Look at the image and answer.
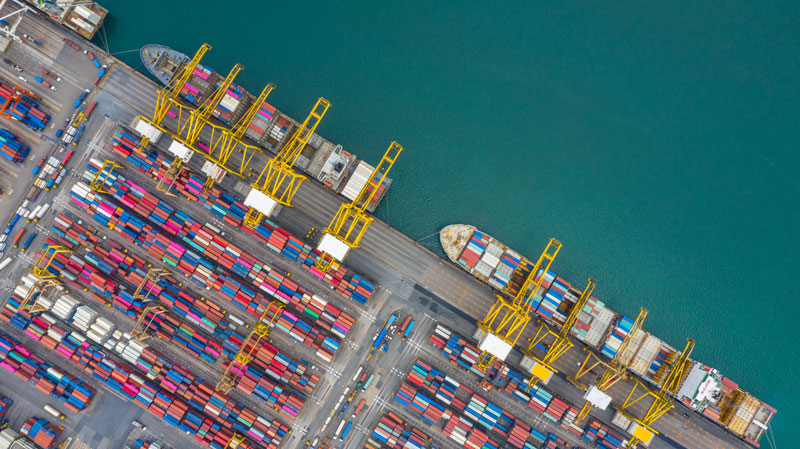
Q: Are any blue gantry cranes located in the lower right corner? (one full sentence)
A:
No, no blue gantry crane is visible in the lower right corner.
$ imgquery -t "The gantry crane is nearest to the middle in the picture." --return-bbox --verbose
[316,140,405,273]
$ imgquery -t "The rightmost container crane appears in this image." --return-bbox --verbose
[607,337,698,449]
